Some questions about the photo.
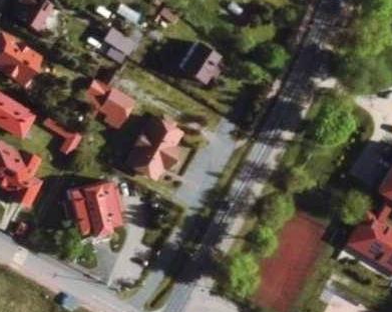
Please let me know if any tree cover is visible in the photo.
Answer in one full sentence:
Yes, the picture does contain tree cover.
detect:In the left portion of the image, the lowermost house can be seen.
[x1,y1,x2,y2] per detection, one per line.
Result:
[58,182,124,247]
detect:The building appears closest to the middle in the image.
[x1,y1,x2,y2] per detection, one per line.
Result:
[132,112,184,180]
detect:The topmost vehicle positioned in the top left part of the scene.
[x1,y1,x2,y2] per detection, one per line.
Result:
[97,6,111,19]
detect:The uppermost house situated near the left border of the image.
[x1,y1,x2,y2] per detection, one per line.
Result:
[17,0,63,33]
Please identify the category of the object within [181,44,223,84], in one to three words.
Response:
house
